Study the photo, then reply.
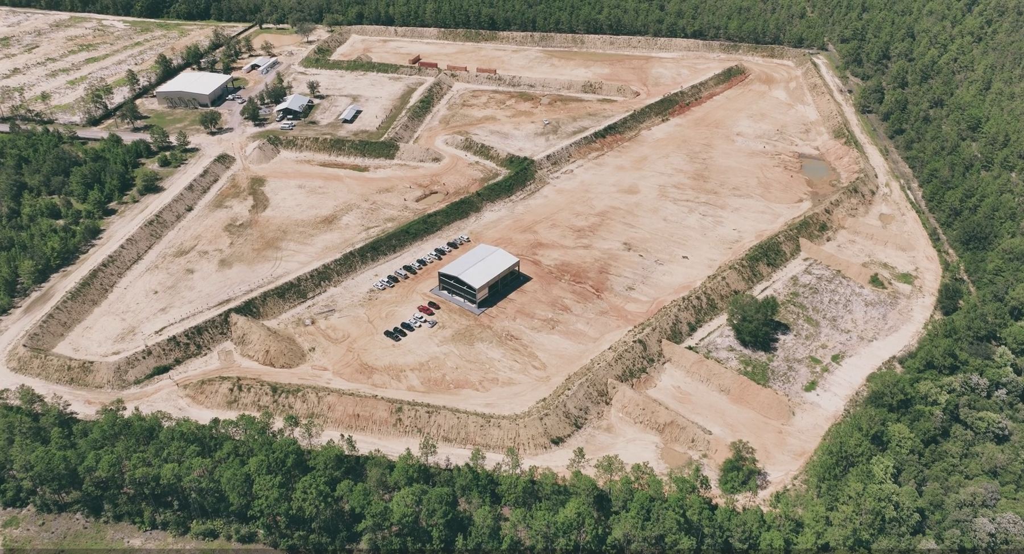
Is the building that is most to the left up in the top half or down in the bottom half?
top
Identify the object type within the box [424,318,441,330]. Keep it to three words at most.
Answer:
vehicle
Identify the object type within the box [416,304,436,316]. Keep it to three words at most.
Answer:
vehicle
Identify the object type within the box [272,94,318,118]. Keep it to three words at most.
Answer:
shed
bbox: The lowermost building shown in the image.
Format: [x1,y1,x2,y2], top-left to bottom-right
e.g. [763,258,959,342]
[427,244,532,318]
